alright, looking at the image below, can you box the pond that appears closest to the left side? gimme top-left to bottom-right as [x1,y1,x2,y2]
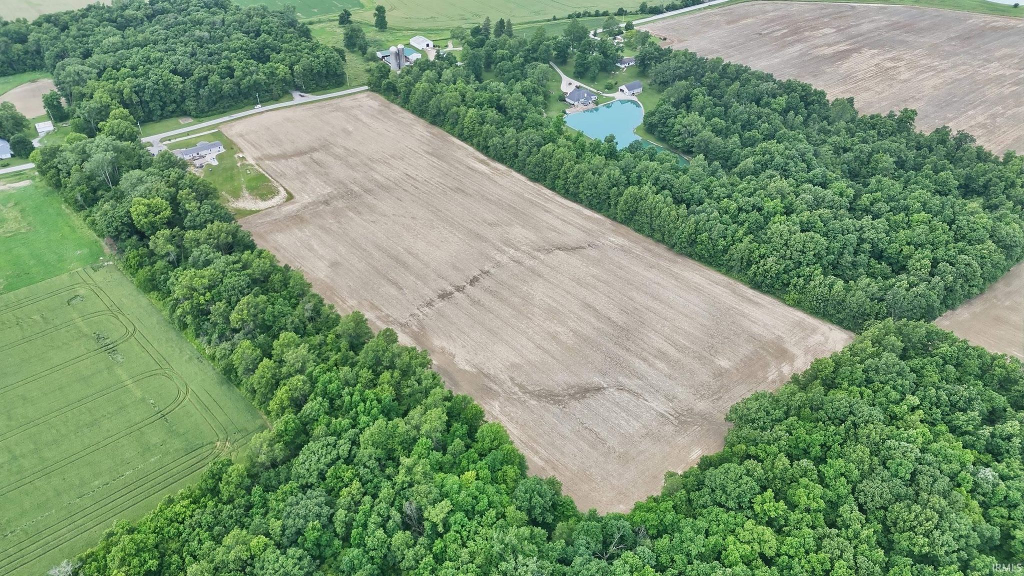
[564,99,676,158]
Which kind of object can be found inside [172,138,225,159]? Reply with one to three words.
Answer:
house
